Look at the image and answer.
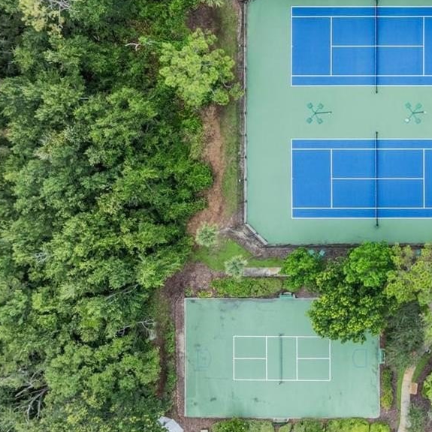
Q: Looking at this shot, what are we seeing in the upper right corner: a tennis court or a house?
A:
tennis court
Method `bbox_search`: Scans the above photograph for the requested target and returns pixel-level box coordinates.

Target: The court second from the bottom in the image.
[291,131,432,228]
